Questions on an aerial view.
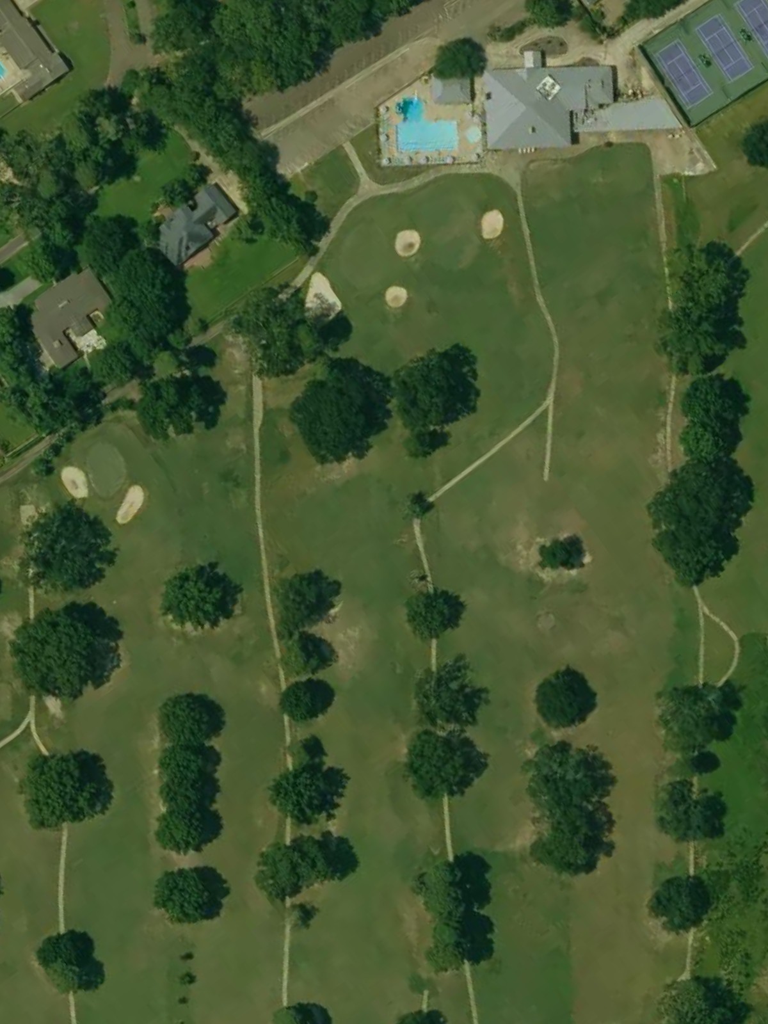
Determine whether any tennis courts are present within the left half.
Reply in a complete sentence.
No, no tennis court can be made out within the left half.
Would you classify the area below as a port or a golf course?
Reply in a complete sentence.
This looks like a golf course.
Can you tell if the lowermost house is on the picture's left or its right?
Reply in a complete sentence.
The lowermost house sits on the left side.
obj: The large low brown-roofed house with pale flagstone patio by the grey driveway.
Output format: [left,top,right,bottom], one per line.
[33,265,111,370]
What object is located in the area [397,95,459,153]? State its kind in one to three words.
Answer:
swimming pool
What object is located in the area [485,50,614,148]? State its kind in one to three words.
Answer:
building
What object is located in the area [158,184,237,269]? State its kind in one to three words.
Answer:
house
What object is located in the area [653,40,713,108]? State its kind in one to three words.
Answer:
tennis court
